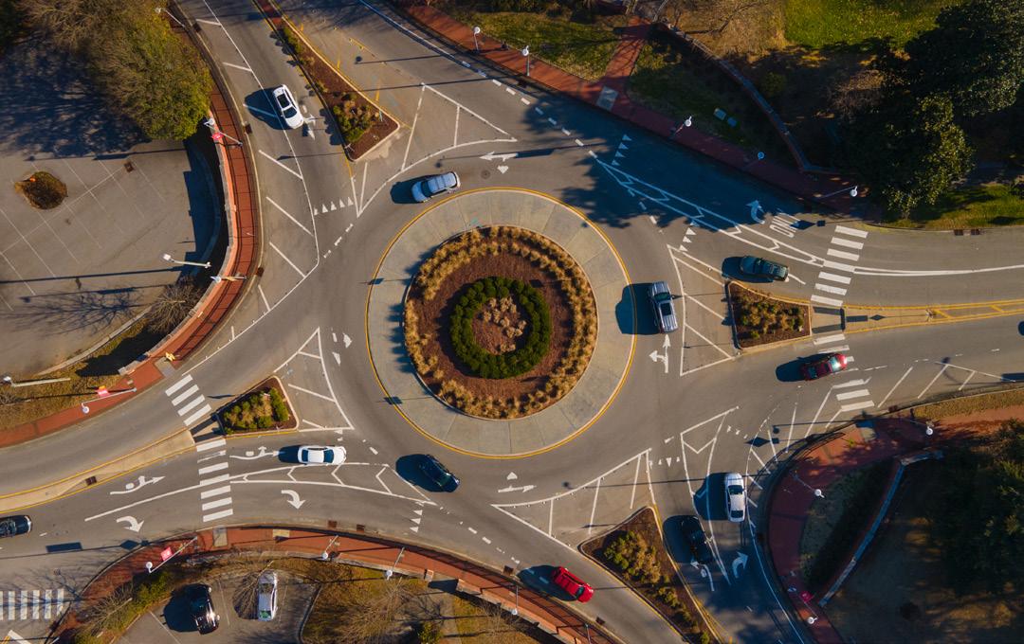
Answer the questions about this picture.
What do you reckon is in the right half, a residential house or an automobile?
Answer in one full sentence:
You can see an automobile in the right half.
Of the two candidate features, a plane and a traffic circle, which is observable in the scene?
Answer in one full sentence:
The image shows a traffic circle.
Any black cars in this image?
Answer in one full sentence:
Yes, I can see a black car in this picture.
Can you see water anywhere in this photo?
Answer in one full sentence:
No, no water is visible.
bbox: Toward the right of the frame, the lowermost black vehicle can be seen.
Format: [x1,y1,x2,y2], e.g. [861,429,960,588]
[682,515,713,566]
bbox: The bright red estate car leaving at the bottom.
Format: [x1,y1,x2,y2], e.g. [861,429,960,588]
[551,565,595,602]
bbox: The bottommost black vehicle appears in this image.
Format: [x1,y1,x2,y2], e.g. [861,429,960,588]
[189,584,217,634]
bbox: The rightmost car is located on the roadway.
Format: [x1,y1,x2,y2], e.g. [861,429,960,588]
[799,354,847,381]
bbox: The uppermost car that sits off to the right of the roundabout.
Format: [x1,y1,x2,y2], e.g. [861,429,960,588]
[738,256,789,283]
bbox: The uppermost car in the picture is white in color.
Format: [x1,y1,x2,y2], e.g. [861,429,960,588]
[271,83,306,130]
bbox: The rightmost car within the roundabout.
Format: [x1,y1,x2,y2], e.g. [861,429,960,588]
[651,281,679,333]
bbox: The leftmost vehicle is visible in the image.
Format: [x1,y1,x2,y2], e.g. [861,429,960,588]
[0,516,34,540]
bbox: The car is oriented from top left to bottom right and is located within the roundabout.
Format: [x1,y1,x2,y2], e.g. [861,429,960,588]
[419,454,462,491]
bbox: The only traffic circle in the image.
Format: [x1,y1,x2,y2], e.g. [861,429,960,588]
[307,126,697,516]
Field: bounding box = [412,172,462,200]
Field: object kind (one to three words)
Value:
car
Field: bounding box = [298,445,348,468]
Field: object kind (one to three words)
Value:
car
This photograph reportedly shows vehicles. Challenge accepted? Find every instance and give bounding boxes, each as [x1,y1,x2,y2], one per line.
[724,472,748,522]
[799,354,847,381]
[419,454,462,491]
[551,565,595,602]
[651,281,679,333]
[0,516,34,540]
[189,584,217,634]
[738,256,789,283]
[298,445,348,468]
[412,172,462,200]
[271,83,306,130]
[682,515,713,566]
[256,572,279,619]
